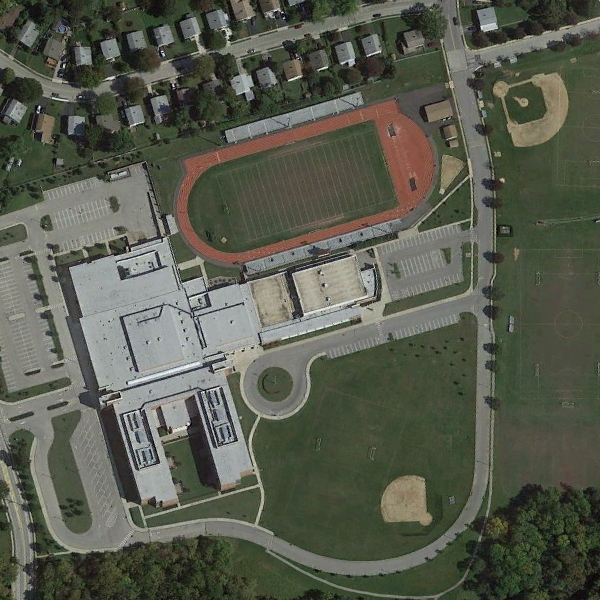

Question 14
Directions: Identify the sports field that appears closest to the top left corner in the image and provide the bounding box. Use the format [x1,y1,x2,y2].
[188,120,397,253]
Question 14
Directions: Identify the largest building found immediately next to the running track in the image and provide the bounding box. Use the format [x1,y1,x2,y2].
[69,162,380,507]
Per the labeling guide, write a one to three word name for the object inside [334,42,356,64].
house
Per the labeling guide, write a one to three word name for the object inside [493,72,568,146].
baseball field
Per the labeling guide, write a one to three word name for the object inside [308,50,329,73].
house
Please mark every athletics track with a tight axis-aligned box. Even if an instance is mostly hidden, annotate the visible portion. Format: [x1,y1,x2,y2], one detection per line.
[176,100,434,264]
